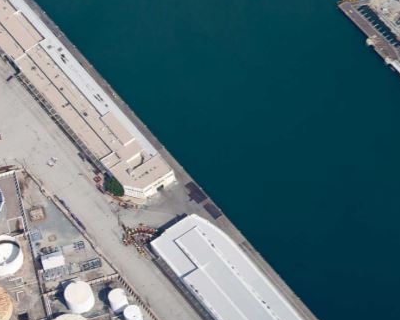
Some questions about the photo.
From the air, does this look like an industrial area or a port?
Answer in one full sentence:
This image shows an industrial area.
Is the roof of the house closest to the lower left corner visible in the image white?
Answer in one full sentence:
Yes, the roof of the house closest to the lower left corner is white.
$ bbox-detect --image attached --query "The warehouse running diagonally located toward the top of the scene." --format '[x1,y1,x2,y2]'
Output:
[0,0,175,200]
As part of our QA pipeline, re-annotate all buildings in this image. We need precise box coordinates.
[41,252,67,273]
[148,215,302,320]
[0,0,175,200]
